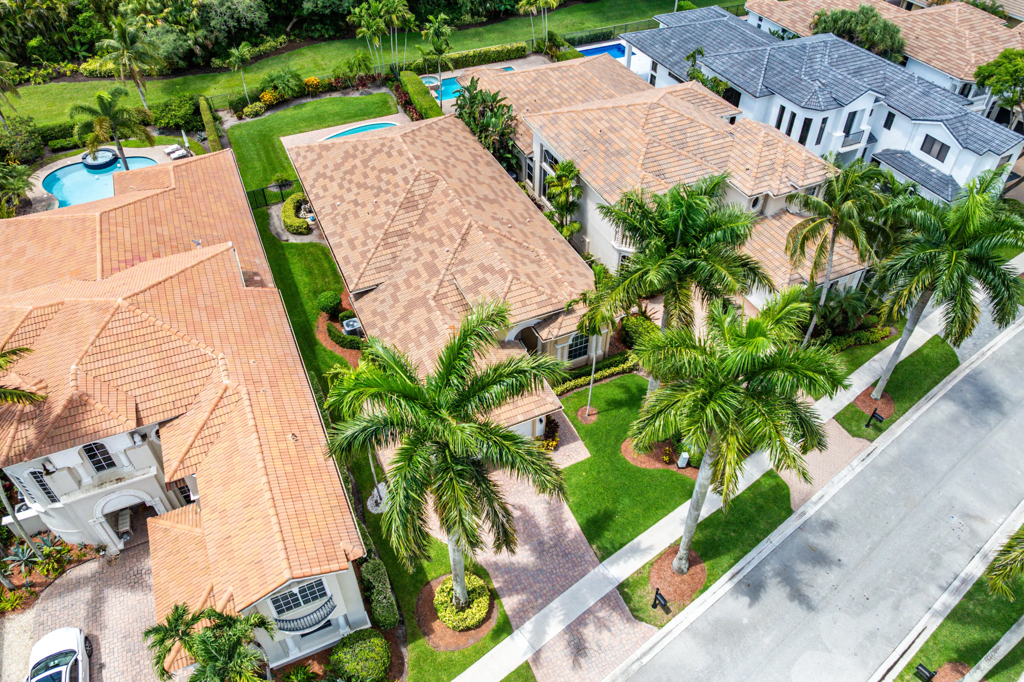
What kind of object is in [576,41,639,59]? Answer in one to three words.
swimming pool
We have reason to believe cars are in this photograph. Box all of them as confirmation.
[14,624,96,682]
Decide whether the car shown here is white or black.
white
